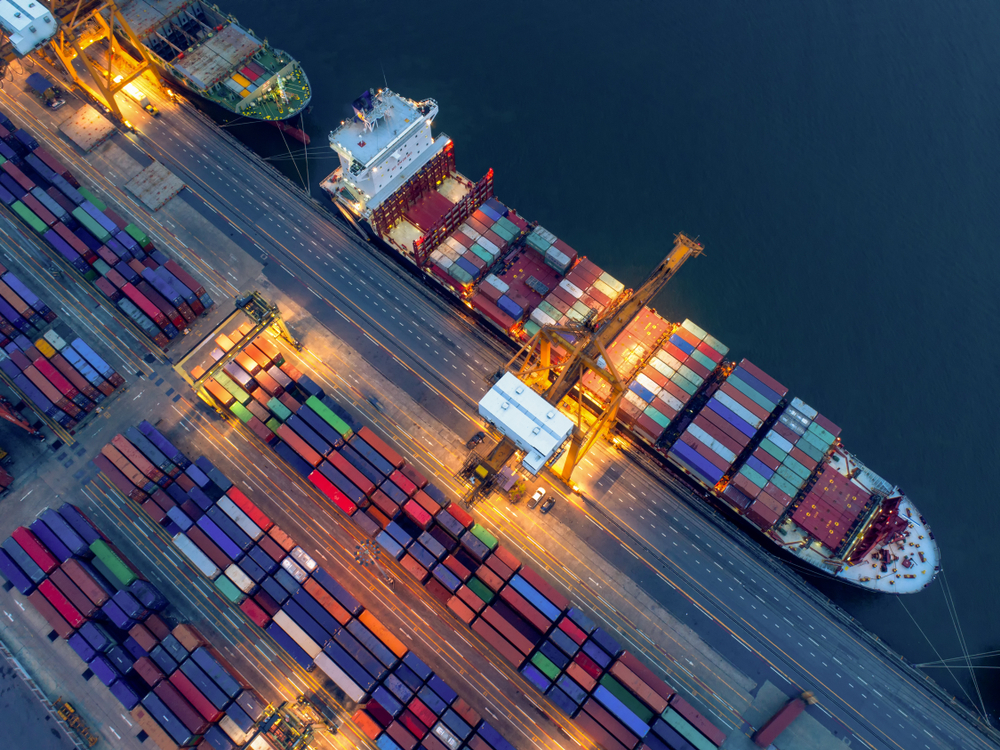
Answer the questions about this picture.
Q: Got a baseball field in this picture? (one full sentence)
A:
No, I can't see a single baseball field in this photo.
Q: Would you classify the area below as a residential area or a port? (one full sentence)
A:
This looks like a port.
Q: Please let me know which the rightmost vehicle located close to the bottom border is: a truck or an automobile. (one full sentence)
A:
The rightmost vehicle located close to the bottom border appears to be a truck.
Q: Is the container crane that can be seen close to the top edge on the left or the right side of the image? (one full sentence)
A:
You can find the container crane that can be seen close to the top edge on the left side of the picture.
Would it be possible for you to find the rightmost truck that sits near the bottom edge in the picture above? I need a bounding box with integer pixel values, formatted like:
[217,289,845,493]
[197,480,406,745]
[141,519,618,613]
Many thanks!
[755,687,819,748]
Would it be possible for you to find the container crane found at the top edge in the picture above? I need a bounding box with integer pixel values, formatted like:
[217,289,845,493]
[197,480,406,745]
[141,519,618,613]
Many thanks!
[0,0,174,128]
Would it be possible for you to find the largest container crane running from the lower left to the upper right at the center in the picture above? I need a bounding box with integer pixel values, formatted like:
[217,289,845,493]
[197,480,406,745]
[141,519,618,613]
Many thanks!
[443,224,709,520]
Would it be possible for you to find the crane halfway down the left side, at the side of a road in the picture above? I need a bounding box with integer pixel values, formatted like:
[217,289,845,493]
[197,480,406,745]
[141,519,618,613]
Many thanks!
[168,289,306,422]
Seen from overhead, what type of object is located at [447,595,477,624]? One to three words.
shipping container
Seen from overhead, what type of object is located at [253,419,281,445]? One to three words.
shipping container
